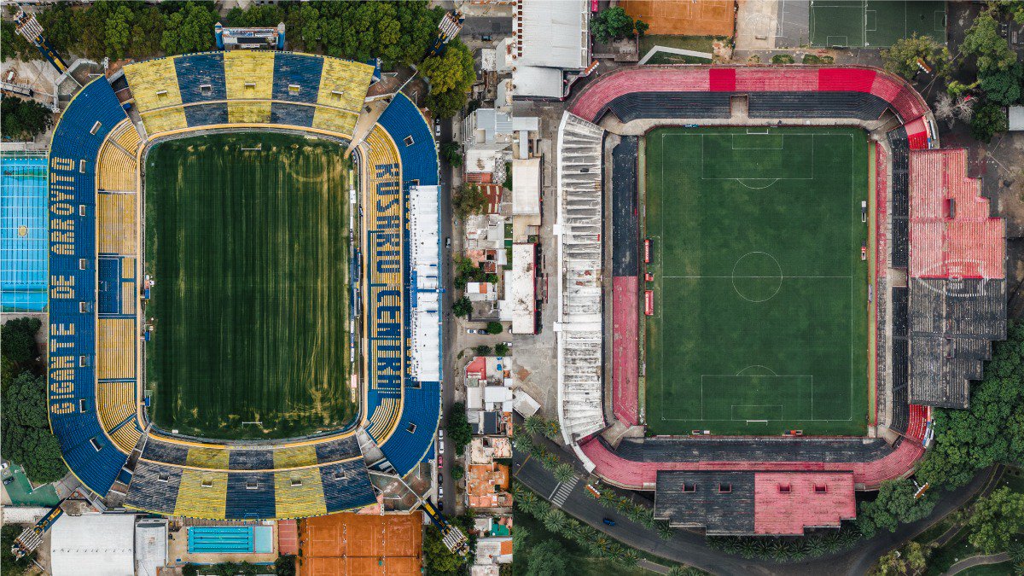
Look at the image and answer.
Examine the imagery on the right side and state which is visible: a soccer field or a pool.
soccer field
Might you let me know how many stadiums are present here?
2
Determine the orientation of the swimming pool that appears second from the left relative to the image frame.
horizontally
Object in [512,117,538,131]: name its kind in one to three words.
house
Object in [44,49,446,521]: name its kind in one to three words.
stadium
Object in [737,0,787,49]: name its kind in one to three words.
basketball court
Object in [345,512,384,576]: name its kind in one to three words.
tennis court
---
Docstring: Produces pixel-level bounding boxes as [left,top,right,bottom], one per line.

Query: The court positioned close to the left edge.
[0,461,56,506]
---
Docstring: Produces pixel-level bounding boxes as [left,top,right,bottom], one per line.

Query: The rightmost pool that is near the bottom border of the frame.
[255,526,273,553]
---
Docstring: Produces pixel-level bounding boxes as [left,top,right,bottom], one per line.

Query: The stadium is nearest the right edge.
[552,62,1008,537]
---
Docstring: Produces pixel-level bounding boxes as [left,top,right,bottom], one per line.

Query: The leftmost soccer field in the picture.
[145,133,359,439]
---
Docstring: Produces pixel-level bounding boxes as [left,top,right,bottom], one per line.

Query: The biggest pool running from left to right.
[187,526,255,554]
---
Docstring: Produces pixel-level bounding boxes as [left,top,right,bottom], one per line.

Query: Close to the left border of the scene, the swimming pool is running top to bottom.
[0,158,48,311]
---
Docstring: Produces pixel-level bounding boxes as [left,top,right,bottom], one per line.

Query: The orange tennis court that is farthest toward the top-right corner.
[696,0,735,35]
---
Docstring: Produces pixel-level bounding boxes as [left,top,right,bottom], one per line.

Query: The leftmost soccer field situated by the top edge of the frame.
[810,0,863,47]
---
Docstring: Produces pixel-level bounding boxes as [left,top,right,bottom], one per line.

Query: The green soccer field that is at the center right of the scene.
[646,126,869,436]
